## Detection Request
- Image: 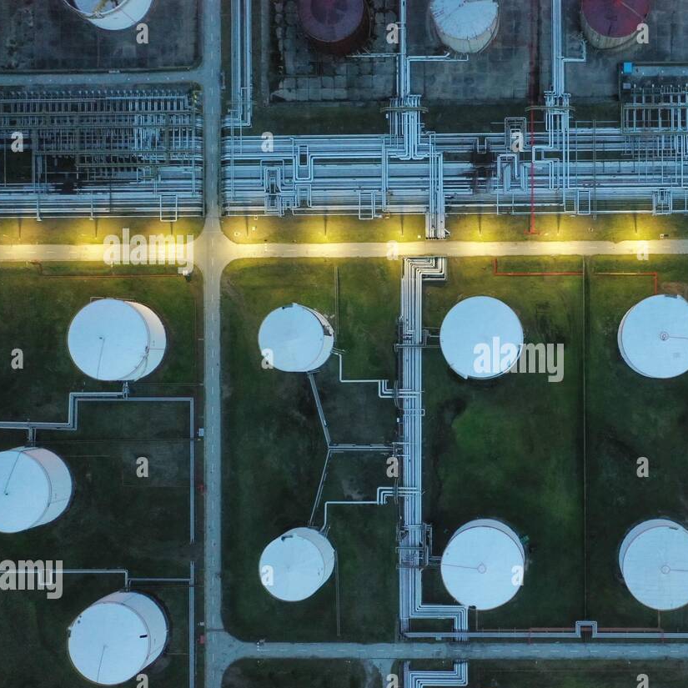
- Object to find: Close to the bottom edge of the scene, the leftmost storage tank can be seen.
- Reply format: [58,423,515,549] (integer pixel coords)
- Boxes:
[65,586,171,685]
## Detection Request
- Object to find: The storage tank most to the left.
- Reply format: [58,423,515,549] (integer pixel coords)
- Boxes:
[0,442,76,532]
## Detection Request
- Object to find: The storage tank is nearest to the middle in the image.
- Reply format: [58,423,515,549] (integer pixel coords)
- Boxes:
[257,305,336,374]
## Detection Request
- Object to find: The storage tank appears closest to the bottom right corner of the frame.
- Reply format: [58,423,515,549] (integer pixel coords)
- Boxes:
[616,517,688,610]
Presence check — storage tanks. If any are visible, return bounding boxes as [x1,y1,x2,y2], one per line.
[258,524,337,601]
[431,0,502,55]
[65,586,171,685]
[298,0,373,56]
[67,298,168,383]
[439,295,525,380]
[64,0,155,33]
[577,0,651,51]
[0,442,76,532]
[616,517,688,610]
[615,294,688,379]
[257,305,336,374]
[440,517,526,610]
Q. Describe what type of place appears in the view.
industrial area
